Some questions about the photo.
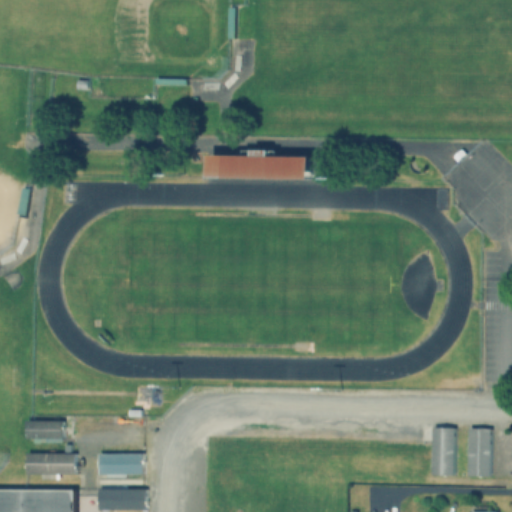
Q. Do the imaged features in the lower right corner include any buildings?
Yes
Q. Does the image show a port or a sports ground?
sports ground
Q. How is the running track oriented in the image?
horizontally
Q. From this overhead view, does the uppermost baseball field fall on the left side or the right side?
left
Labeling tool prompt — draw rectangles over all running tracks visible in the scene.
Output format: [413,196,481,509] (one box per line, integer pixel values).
[37,182,474,383]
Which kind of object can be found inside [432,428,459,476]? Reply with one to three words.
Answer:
building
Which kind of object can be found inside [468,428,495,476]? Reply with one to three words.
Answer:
building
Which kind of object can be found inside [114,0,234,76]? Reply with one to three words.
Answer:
baseball field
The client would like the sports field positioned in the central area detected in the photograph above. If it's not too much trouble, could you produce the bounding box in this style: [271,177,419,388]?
[62,207,450,358]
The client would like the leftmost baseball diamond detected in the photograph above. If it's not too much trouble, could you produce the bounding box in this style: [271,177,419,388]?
[0,174,25,264]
